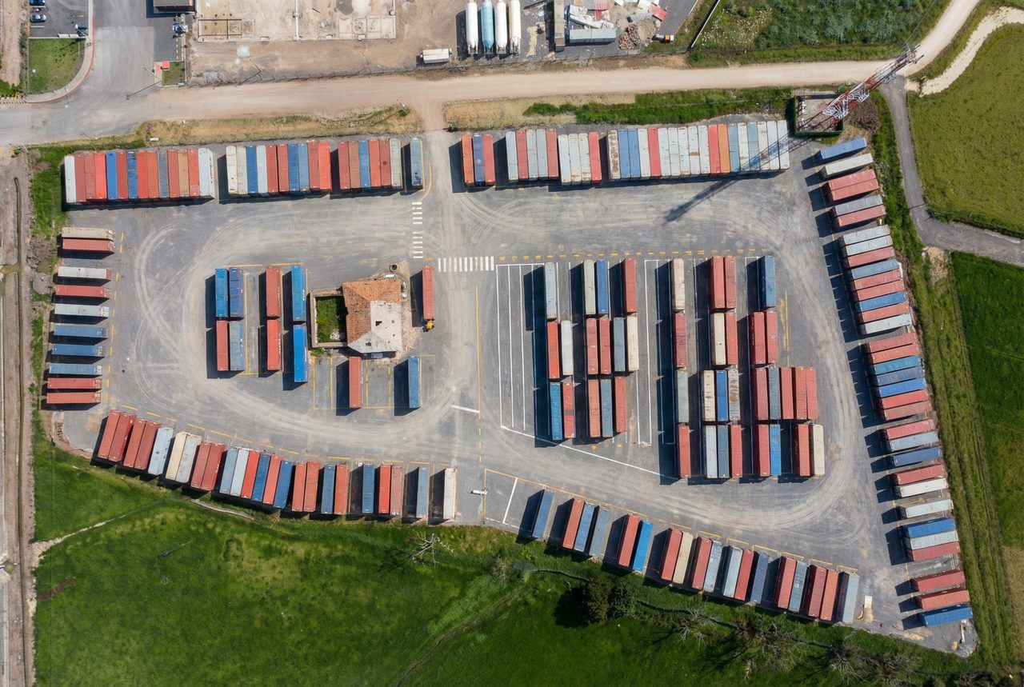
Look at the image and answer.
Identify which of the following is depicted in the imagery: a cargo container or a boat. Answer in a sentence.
The one in the frame is a cargo container.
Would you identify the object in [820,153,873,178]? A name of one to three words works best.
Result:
shipping container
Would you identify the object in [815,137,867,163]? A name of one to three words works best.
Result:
shipping container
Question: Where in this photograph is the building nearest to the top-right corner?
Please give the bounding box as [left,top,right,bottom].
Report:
[568,4,615,29]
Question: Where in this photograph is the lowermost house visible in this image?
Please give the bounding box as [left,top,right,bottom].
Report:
[344,279,403,353]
